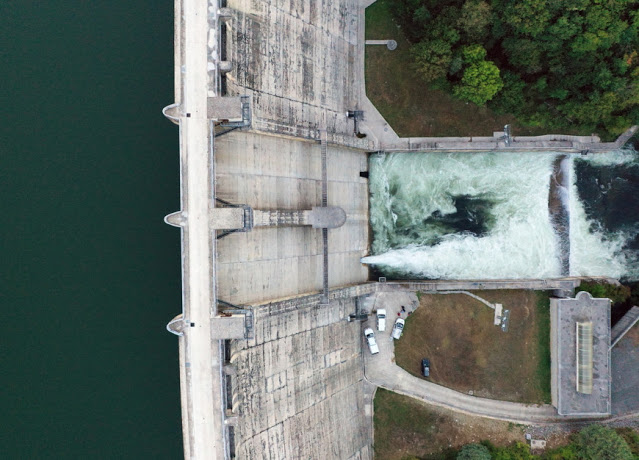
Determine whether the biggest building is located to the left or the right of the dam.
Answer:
to its right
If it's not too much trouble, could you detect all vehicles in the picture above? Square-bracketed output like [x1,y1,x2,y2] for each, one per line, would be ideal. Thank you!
[421,356,432,378]
[391,316,406,341]
[364,328,378,355]
[376,308,387,331]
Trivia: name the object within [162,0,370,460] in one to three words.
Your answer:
dam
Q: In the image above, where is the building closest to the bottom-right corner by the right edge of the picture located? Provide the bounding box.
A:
[550,289,610,414]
